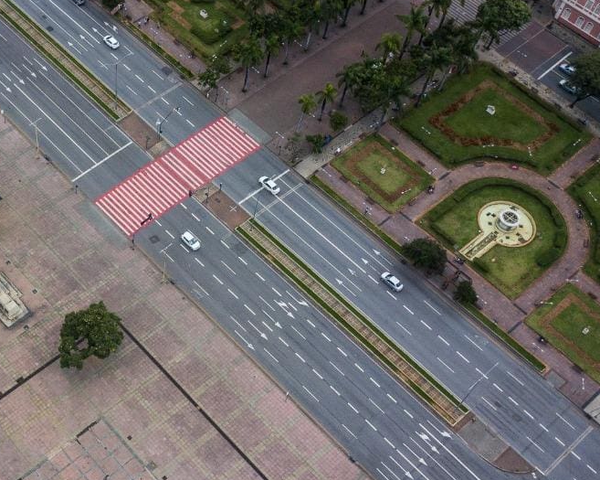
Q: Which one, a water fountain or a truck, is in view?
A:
water fountain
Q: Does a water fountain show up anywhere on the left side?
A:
No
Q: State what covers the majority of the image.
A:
paved ground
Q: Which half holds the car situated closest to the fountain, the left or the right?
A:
right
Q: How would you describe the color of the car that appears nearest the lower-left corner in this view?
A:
white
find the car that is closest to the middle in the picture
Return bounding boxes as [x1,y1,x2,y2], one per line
[256,174,282,197]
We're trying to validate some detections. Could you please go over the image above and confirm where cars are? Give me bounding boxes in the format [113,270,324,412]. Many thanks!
[74,0,88,6]
[256,174,282,197]
[557,77,584,95]
[377,267,407,294]
[178,229,202,251]
[101,33,122,50]
[554,59,579,77]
